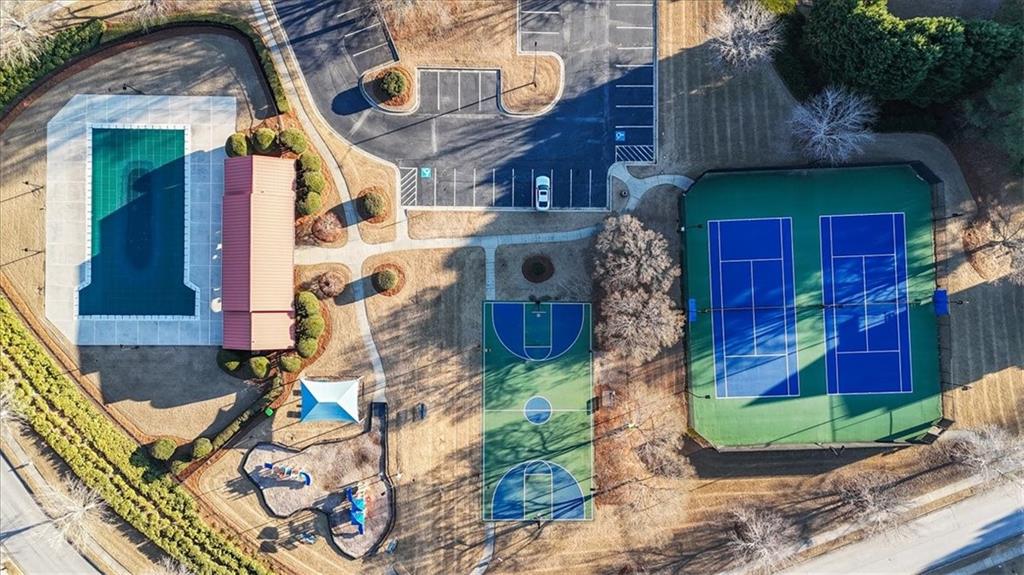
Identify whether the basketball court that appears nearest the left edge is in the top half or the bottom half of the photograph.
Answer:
bottom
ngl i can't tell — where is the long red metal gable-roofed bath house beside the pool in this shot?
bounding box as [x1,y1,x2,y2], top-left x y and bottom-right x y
[220,152,298,351]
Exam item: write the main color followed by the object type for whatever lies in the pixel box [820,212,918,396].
blue tennis court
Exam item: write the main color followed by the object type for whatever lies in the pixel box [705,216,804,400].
blue tennis court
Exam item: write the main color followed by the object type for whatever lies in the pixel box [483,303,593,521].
green basketball court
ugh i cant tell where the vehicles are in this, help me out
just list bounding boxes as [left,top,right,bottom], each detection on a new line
[535,175,551,210]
